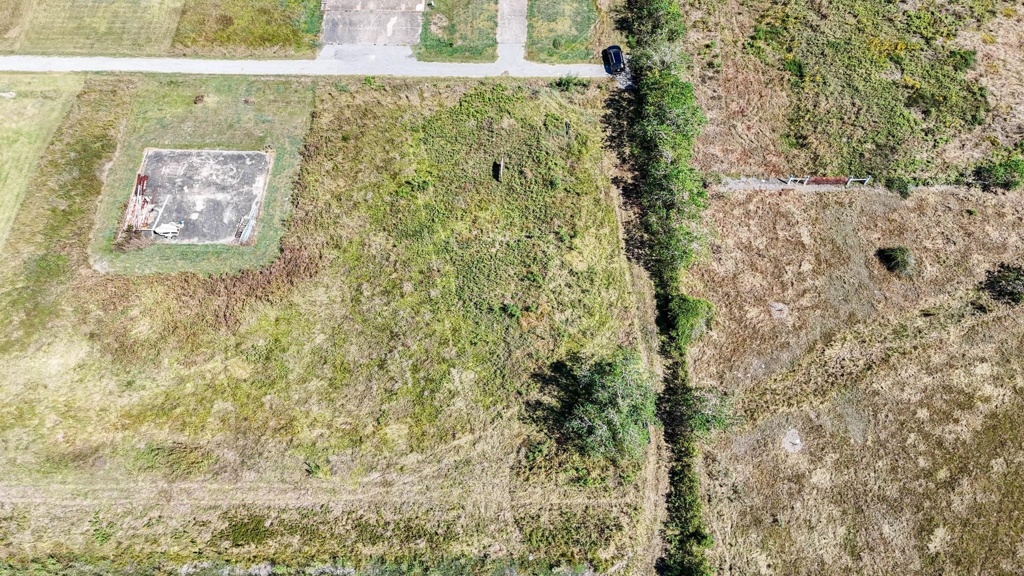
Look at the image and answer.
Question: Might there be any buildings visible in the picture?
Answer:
No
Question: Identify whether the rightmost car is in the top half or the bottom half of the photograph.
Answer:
top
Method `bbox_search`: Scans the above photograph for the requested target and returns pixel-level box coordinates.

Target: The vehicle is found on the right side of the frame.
[605,46,626,72]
